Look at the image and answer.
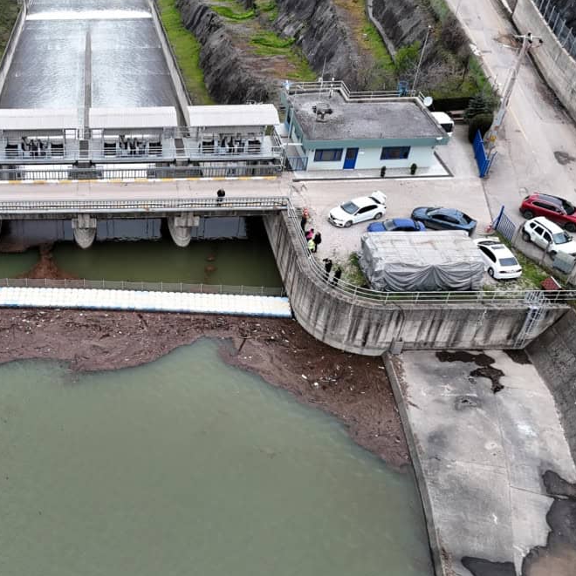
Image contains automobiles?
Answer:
Yes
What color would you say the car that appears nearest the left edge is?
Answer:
white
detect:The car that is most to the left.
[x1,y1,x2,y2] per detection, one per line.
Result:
[329,190,389,228]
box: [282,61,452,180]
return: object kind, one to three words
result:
building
